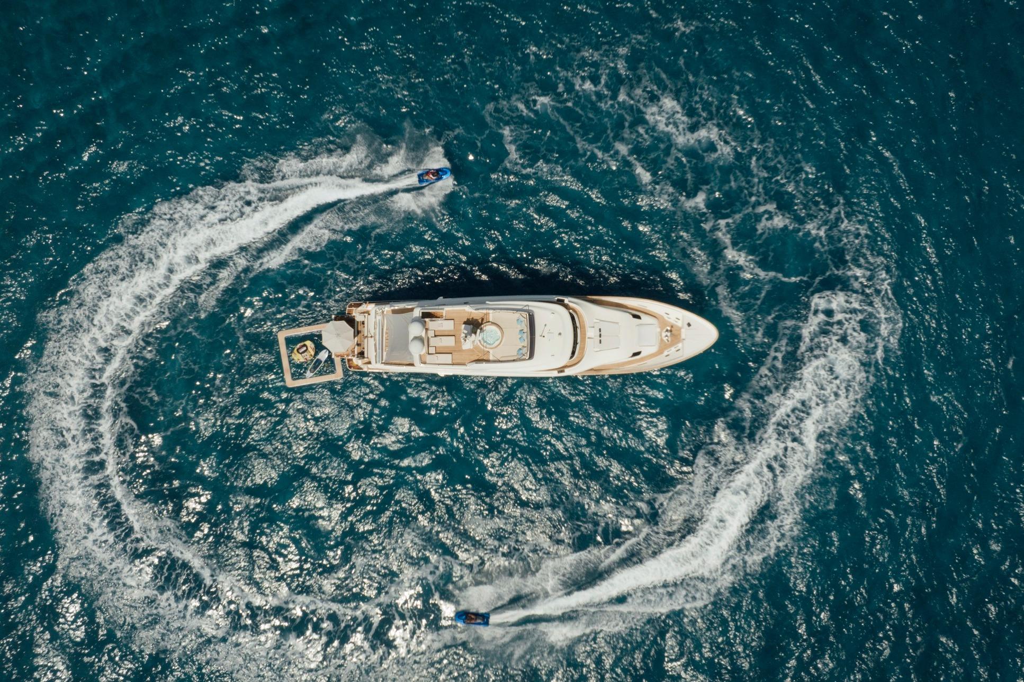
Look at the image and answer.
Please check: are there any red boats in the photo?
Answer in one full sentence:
No, there is no red boat in the image.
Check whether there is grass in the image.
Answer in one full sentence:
No, there is no grass in the image.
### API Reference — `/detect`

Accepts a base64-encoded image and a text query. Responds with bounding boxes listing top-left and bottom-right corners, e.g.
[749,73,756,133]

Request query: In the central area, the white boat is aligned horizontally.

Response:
[332,295,719,377]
